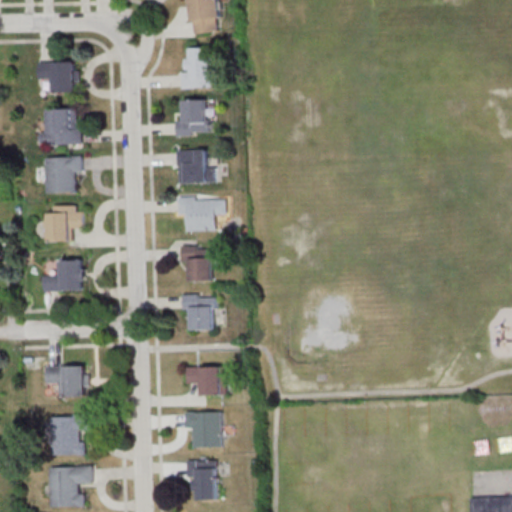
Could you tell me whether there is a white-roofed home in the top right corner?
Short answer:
No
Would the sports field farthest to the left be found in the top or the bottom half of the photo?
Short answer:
bottom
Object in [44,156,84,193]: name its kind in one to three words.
house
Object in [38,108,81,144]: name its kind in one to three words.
house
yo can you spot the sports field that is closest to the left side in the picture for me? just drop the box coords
[281,404,466,512]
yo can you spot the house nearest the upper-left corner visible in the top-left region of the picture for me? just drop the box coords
[36,60,78,91]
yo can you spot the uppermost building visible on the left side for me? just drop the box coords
[188,0,222,34]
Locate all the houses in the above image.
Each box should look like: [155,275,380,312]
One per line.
[185,412,225,448]
[44,156,84,193]
[38,108,81,144]
[36,60,78,91]
[182,295,218,332]
[42,204,86,242]
[178,150,218,183]
[185,367,226,396]
[50,418,84,456]
[182,246,213,280]
[178,197,227,232]
[176,100,212,136]
[42,261,84,292]
[188,460,220,501]
[188,0,222,34]
[180,47,211,90]
[44,367,88,397]
[49,467,94,508]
